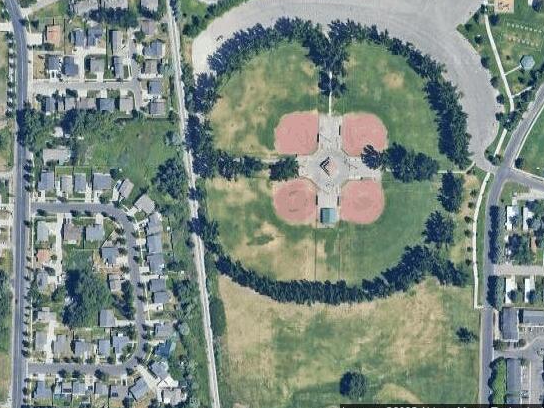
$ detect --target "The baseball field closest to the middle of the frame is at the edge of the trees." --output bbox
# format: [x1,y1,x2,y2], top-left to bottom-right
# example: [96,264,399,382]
[219,176,319,279]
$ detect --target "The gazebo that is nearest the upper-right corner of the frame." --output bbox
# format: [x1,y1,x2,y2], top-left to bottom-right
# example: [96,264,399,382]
[522,55,535,69]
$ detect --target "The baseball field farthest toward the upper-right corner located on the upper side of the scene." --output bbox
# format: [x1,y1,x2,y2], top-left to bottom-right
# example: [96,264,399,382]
[339,48,450,157]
